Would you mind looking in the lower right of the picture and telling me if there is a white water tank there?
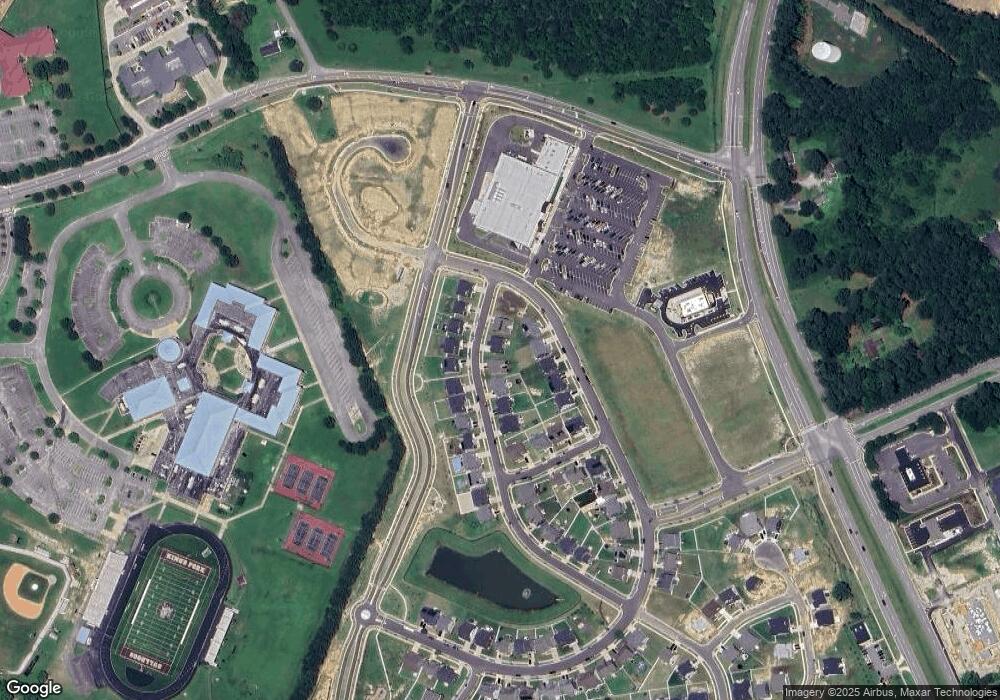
No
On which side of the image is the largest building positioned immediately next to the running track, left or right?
left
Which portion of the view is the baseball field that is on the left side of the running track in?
bottom left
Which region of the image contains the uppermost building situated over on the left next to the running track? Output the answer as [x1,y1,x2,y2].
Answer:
[101,283,305,499]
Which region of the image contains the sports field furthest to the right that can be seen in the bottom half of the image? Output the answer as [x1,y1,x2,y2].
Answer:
[111,533,219,689]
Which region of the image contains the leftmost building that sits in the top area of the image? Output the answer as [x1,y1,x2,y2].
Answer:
[0,27,58,97]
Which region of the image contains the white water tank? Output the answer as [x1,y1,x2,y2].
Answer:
[813,40,841,64]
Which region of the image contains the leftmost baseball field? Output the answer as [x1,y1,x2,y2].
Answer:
[0,550,63,668]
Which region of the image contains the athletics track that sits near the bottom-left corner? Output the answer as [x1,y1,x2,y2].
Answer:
[99,513,229,699]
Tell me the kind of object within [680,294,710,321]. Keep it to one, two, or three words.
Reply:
building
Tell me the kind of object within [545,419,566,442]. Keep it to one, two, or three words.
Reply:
house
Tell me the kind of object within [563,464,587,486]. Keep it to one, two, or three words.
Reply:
house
